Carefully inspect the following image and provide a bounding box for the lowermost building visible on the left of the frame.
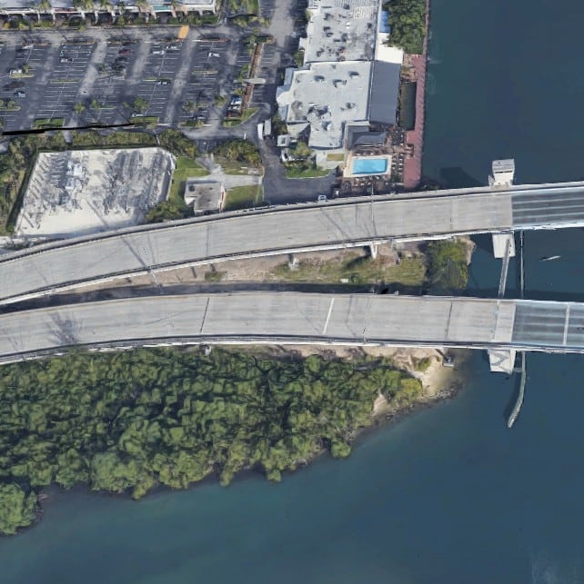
[186,177,227,218]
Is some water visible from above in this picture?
Yes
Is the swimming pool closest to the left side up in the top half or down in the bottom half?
top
